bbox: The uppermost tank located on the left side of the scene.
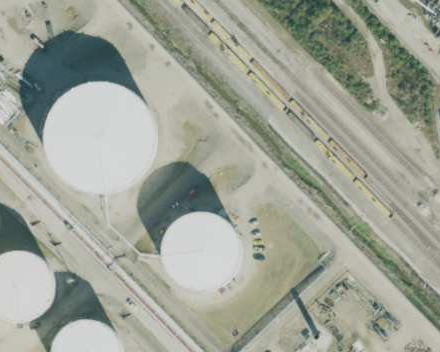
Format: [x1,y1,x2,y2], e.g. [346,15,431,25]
[44,79,160,196]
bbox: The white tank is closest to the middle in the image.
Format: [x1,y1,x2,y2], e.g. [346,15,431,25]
[160,211,242,294]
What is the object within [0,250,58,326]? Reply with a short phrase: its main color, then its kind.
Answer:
white storage tank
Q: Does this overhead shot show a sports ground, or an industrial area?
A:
industrial area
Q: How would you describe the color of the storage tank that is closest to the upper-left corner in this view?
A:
white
